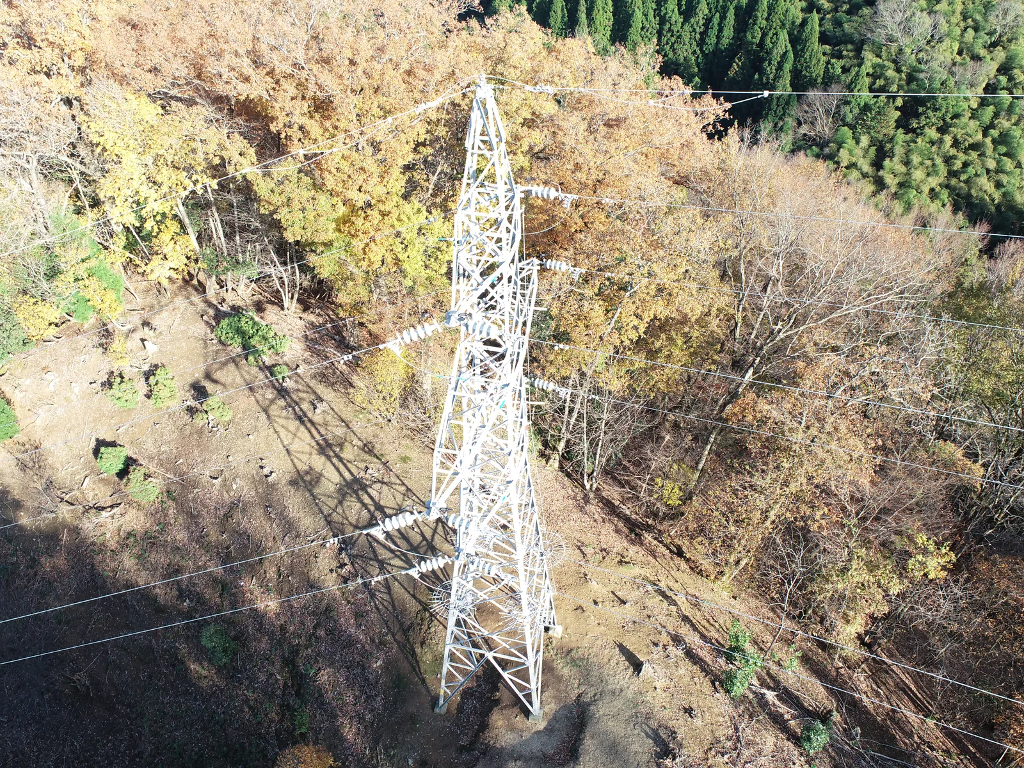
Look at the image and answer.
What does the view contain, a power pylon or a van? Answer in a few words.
power pylon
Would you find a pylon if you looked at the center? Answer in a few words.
Yes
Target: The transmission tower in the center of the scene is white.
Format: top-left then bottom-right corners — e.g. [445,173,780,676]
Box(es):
[416,76,565,730]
